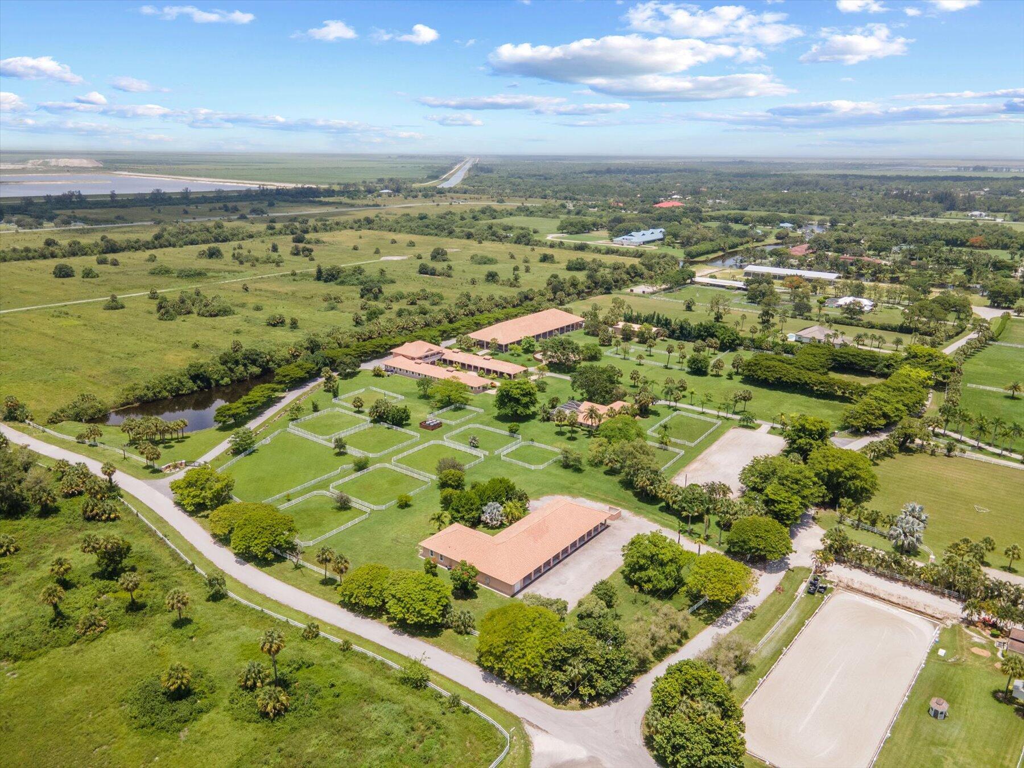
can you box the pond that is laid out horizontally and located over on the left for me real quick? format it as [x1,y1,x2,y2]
[90,368,278,432]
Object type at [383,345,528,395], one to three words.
building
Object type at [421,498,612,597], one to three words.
building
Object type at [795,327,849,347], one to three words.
house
